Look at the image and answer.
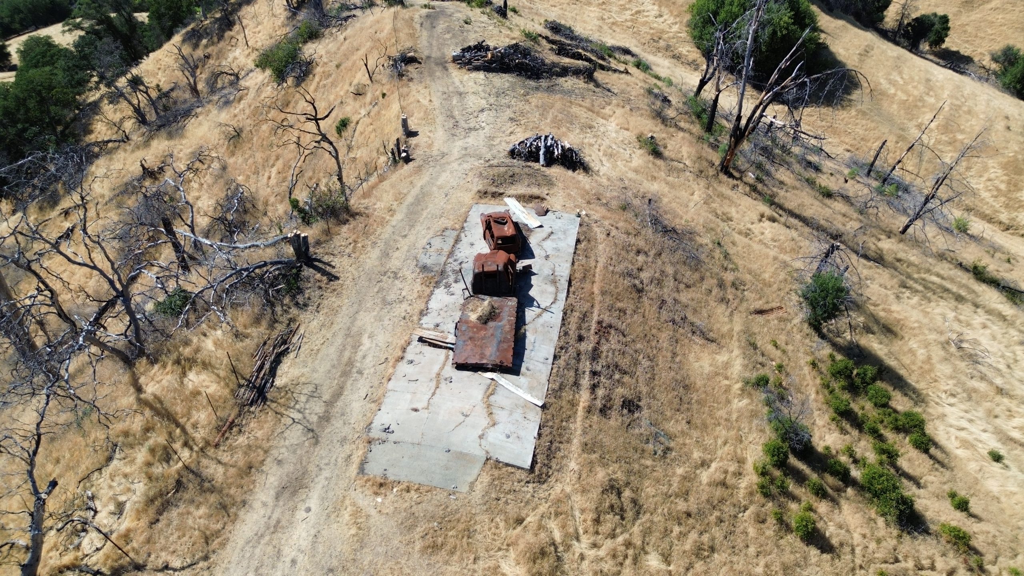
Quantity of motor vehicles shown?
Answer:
2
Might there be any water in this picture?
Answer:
No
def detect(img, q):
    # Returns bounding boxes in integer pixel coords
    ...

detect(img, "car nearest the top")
[477,204,518,252]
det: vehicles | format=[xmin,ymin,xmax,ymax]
[450,251,518,371]
[477,204,518,252]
